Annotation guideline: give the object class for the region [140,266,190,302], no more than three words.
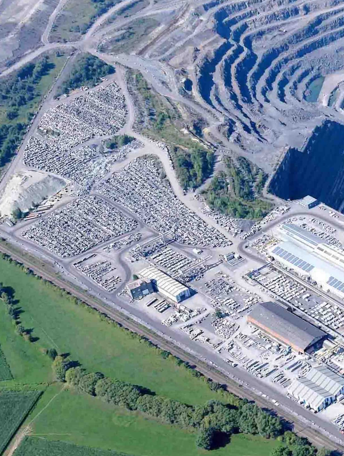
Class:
building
